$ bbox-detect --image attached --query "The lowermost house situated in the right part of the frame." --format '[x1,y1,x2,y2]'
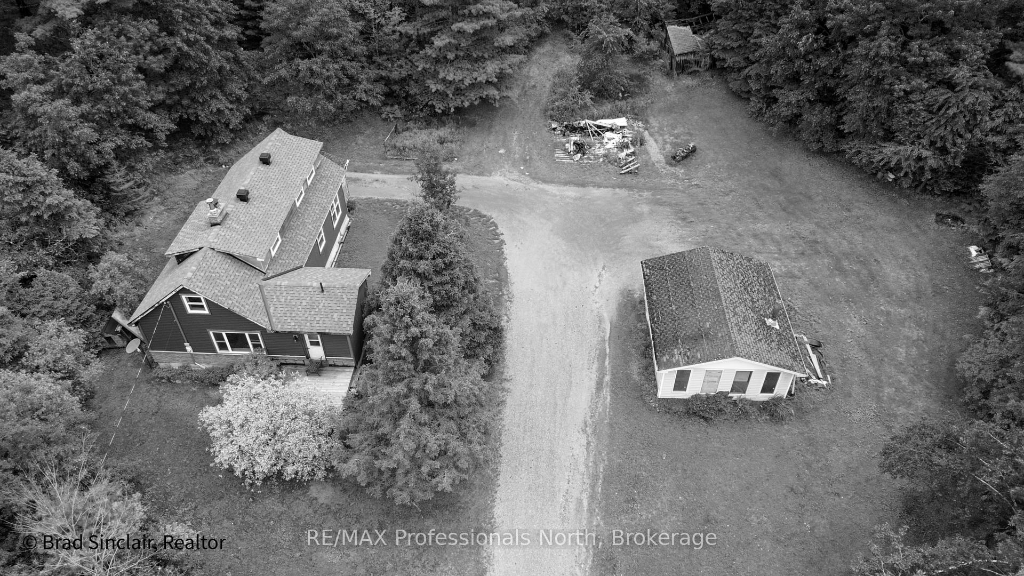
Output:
[640,246,808,401]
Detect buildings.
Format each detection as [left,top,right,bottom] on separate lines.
[640,246,808,401]
[130,127,373,368]
[666,12,719,76]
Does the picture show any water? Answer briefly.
No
